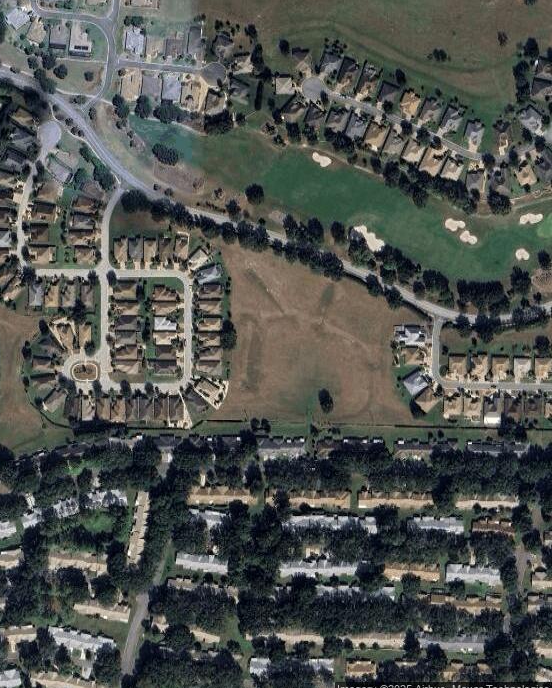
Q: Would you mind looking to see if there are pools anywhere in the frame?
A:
No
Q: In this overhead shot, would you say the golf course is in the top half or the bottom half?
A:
top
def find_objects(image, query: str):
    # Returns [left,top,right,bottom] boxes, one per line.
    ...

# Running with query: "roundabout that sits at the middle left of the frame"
[63,354,108,389]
